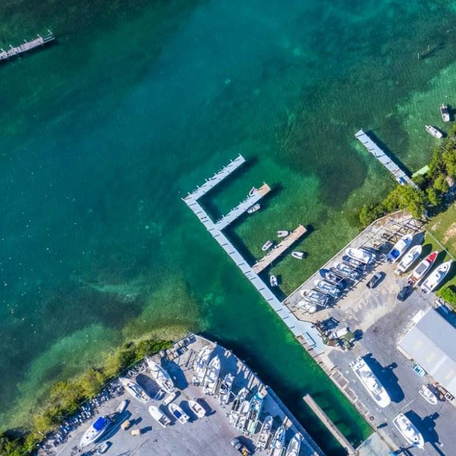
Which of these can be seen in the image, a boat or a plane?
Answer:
boat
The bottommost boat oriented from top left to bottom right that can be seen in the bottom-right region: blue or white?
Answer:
white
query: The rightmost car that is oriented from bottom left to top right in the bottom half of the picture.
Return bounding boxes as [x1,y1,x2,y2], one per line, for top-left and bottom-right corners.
[396,286,415,304]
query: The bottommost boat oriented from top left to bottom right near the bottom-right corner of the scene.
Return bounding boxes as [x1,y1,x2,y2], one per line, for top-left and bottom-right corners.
[391,413,424,448]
